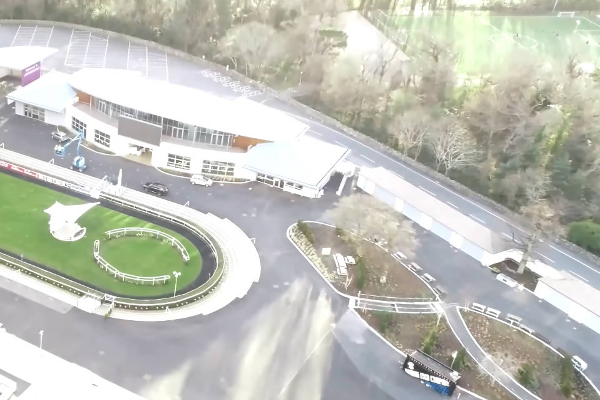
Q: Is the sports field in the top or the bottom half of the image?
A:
top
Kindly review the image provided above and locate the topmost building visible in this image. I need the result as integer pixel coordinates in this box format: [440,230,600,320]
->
[51,67,309,178]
